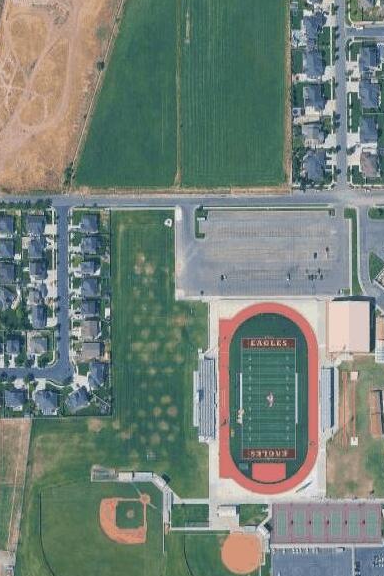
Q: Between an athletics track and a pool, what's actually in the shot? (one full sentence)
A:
There is an athletics track in the scene.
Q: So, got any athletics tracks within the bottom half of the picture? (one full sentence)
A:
Yes, an athletics track appears within the bottom half of the picture.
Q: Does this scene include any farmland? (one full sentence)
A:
Yes, the picture does contain farmland.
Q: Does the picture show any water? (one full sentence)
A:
No, the picture contains no water.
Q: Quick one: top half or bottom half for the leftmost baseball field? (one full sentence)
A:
You can find the leftmost baseball field in the bottom half.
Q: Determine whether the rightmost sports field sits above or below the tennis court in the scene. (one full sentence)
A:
The rightmost sports field is located above the tennis court in this view.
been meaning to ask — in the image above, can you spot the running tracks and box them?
[219,303,318,495]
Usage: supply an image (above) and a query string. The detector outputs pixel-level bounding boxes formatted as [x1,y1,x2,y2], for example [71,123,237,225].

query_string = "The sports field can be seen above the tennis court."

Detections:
[230,311,308,485]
